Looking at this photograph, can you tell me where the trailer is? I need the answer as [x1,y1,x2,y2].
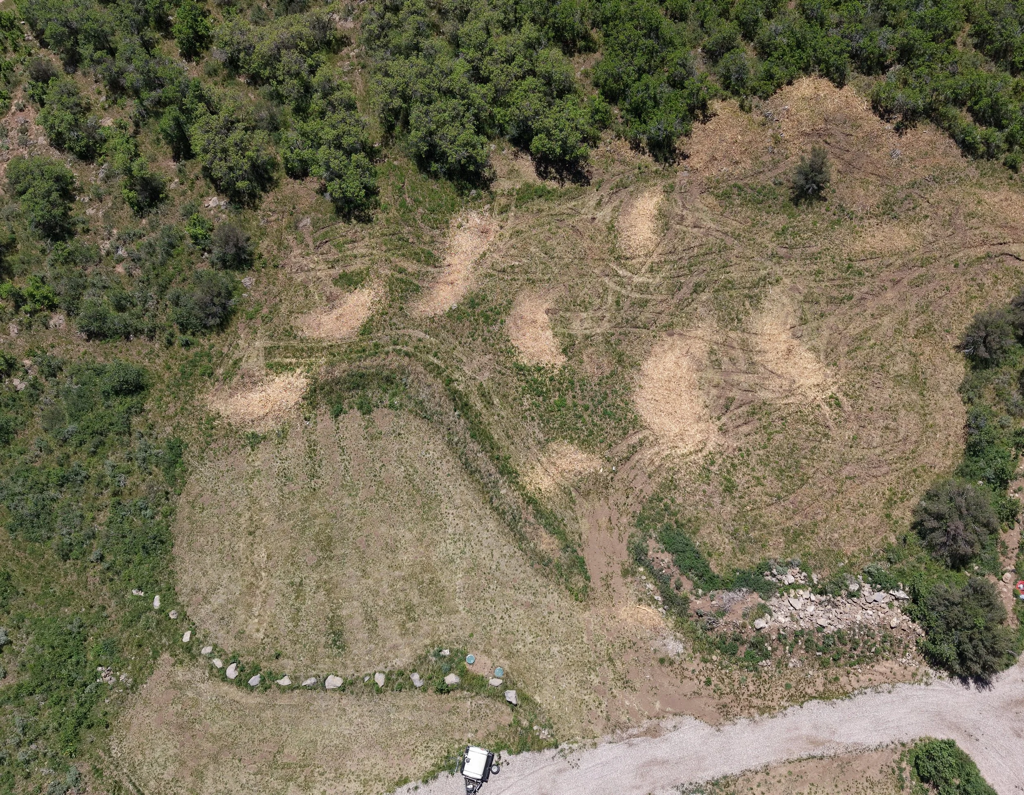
[458,738,496,795]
